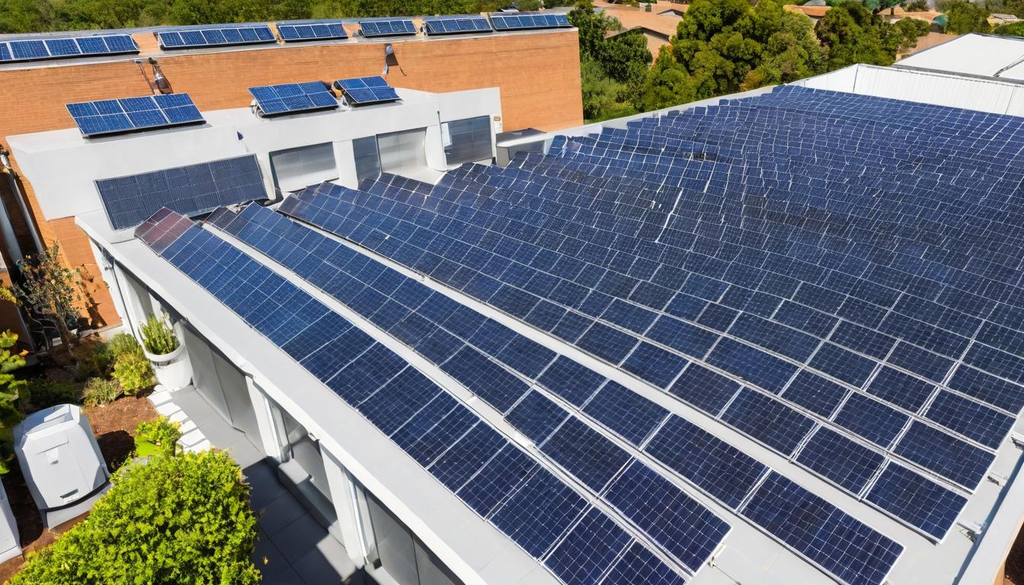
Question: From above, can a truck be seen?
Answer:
No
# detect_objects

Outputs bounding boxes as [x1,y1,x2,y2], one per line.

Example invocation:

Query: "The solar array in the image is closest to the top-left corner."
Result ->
[0,35,144,64]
